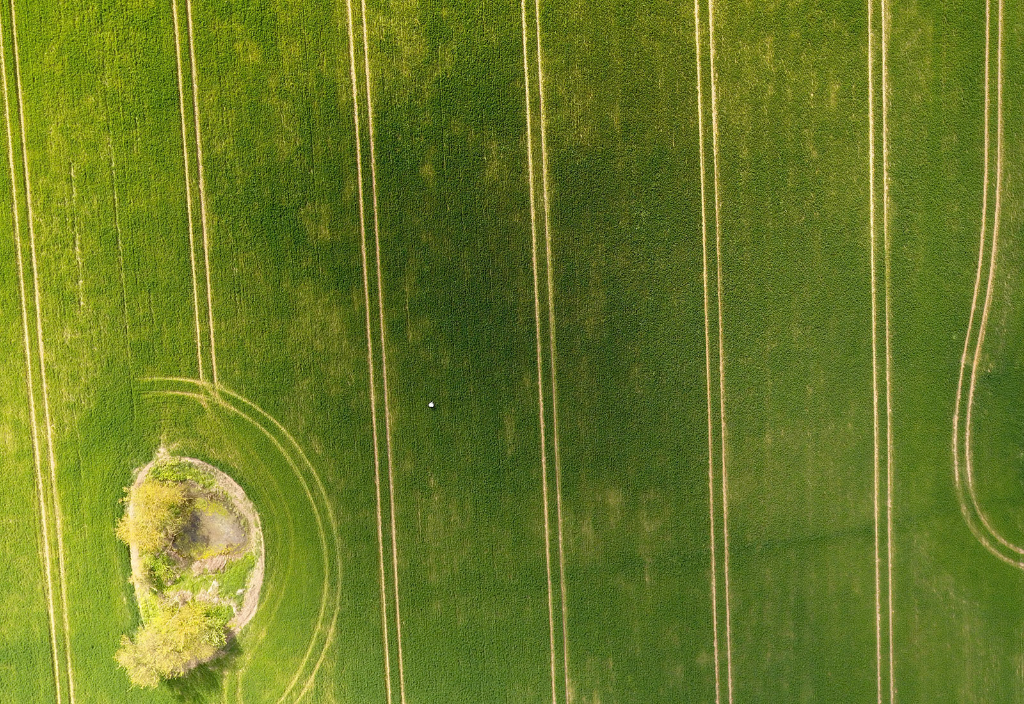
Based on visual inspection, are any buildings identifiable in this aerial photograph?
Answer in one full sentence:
No, no building is visible in the view.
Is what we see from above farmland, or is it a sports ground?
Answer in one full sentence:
The picture captures farmland.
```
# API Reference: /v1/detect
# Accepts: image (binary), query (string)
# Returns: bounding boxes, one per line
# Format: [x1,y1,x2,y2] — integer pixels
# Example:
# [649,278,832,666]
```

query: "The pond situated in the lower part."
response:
[190,501,255,552]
